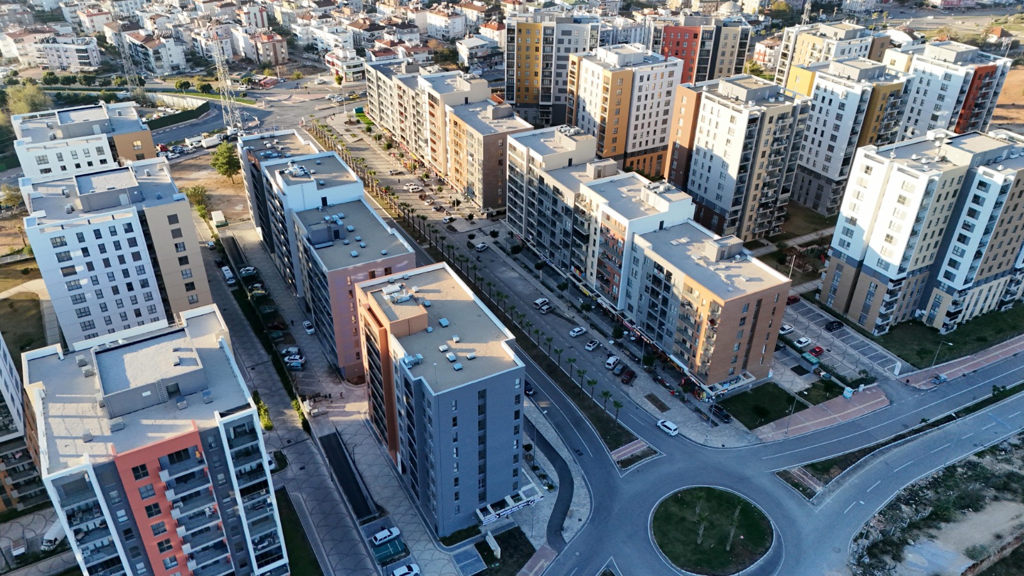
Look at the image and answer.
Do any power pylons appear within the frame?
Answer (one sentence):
Yes, the frame does contain a power pylon.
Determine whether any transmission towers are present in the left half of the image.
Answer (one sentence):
Yes, a transmission tower appears in the left half of the image.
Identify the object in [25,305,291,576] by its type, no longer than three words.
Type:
building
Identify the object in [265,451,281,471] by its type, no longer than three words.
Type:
car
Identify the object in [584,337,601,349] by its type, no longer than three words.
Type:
vehicle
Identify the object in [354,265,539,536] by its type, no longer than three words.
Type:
building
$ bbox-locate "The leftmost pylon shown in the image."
[110,19,144,96]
